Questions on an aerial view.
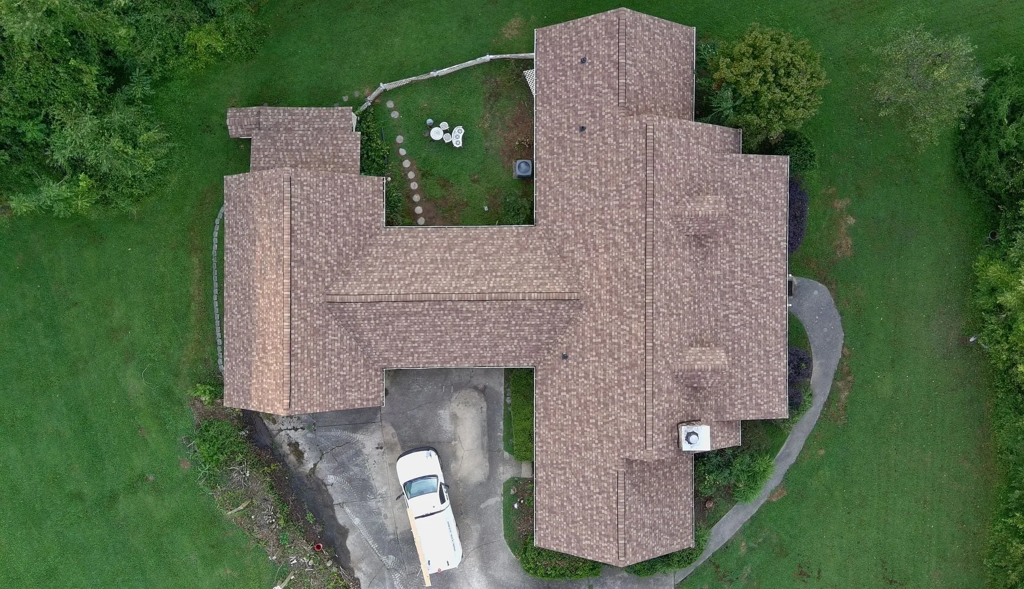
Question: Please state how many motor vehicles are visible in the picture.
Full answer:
Just 1 motor vehicle appears in this view.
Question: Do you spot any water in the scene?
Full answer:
No, no water is visible.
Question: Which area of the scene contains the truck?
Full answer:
You can find the truck in the bottom area of the picture.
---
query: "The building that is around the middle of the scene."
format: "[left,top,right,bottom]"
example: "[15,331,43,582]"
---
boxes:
[223,8,789,566]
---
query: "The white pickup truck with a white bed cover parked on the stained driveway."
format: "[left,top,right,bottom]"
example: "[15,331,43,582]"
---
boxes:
[398,446,464,578]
